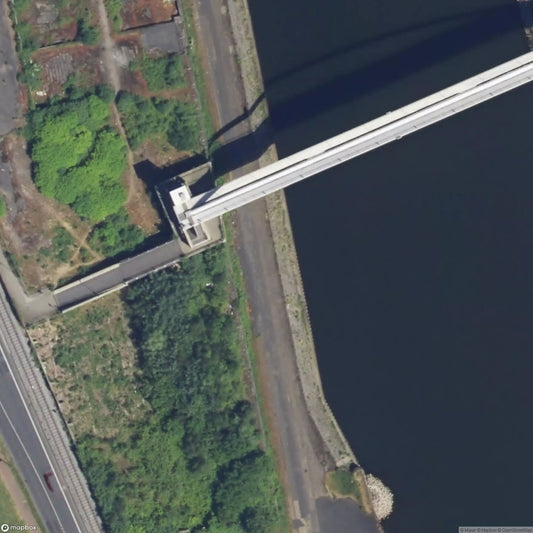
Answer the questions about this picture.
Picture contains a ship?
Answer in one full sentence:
No, this view has no ship in it.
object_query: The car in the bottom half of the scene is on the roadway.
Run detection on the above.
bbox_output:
[44,473,58,492]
